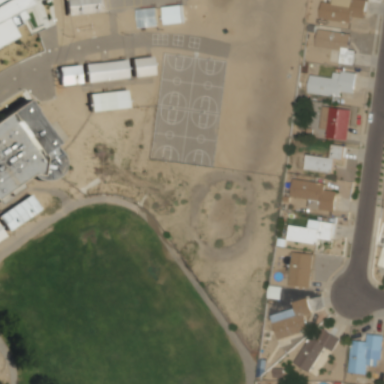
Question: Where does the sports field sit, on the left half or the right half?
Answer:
left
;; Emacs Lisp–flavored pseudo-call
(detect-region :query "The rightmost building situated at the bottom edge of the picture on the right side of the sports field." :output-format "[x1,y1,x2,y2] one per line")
[348,335,384,376]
